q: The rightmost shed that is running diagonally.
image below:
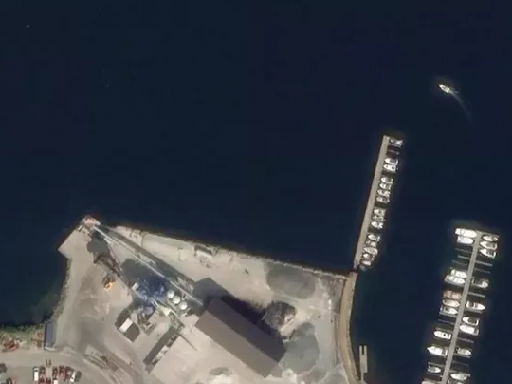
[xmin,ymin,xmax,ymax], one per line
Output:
[195,296,288,377]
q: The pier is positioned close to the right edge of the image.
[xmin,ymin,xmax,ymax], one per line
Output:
[423,230,500,384]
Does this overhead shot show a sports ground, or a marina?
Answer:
marina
